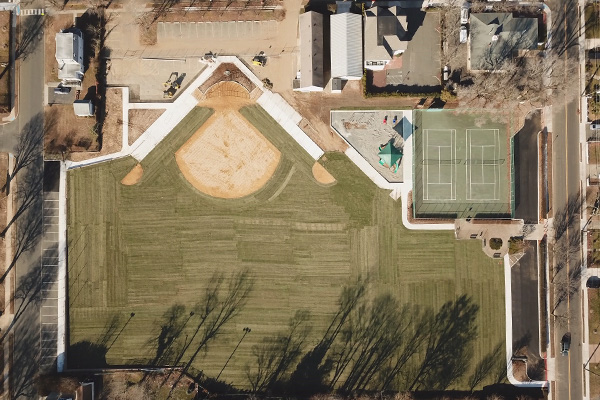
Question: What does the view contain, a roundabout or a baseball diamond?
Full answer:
This aerial view contains a baseball diamond.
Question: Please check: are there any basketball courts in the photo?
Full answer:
No, I find no basketball court anywhere in the image.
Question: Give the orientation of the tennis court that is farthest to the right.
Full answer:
From this overhead view, the tennis court that is farthest to the right appears to run up and down.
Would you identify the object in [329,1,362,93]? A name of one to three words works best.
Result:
barn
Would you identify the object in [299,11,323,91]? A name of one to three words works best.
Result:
barn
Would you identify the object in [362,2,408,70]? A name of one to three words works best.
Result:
building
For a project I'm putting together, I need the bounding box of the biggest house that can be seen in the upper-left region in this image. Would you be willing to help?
[56,32,84,88]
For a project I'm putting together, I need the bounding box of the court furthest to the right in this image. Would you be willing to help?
[461,110,507,218]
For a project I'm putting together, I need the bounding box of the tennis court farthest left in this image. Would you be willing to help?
[414,110,461,218]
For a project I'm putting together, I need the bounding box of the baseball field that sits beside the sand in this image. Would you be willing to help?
[66,63,511,395]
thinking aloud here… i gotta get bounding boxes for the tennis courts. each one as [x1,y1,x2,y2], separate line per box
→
[461,110,507,218]
[414,110,461,218]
